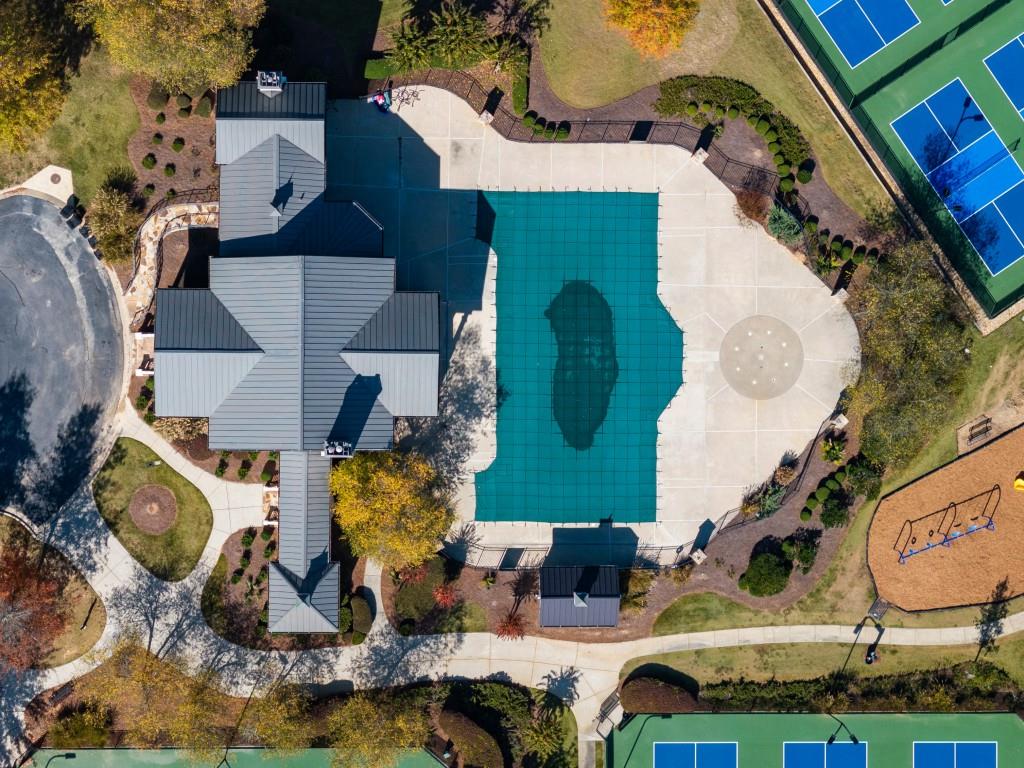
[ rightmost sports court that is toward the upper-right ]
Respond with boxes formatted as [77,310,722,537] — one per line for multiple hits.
[983,34,1024,120]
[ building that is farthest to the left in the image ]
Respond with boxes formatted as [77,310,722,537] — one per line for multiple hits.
[154,70,440,633]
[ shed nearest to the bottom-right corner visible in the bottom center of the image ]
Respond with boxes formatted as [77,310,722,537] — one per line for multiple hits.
[536,564,620,629]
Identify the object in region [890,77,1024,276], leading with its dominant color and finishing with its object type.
blue sports court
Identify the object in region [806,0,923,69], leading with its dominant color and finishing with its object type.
blue sports court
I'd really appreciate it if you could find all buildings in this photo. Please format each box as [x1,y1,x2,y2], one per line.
[154,70,440,633]
[536,564,620,629]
